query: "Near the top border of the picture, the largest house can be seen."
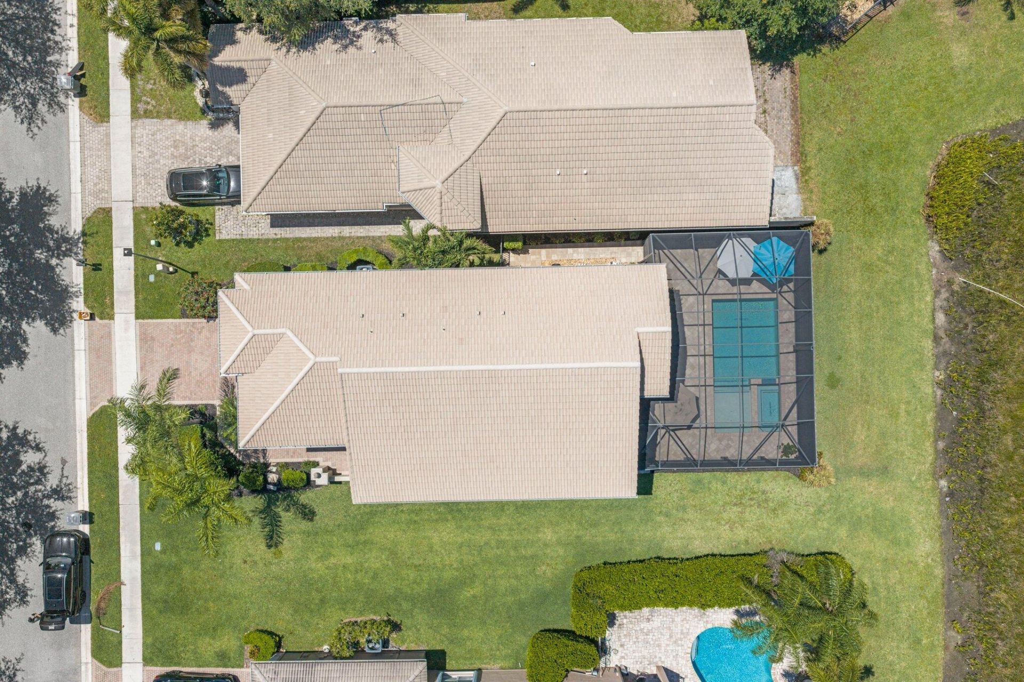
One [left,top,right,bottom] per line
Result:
[206,12,774,235]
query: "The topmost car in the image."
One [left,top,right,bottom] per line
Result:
[167,165,240,206]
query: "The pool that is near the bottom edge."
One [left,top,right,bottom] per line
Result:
[686,617,783,682]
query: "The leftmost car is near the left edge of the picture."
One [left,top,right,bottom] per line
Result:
[39,527,86,635]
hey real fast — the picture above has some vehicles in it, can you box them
[167,165,240,206]
[39,527,86,635]
[151,672,234,682]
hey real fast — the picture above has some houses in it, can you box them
[206,12,774,235]
[249,651,669,682]
[217,262,672,506]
